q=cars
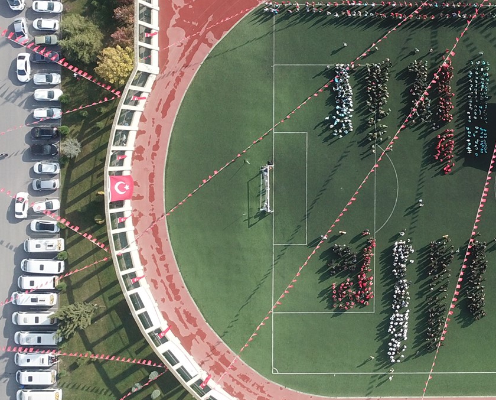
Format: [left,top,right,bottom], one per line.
[13,18,32,44]
[17,53,32,82]
[33,33,60,47]
[31,49,62,63]
[33,177,61,192]
[31,219,62,234]
[33,18,60,31]
[32,126,61,140]
[33,106,63,120]
[34,162,61,175]
[32,0,64,14]
[34,72,62,85]
[33,198,62,212]
[33,89,63,102]
[16,192,30,218]
[31,143,60,156]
